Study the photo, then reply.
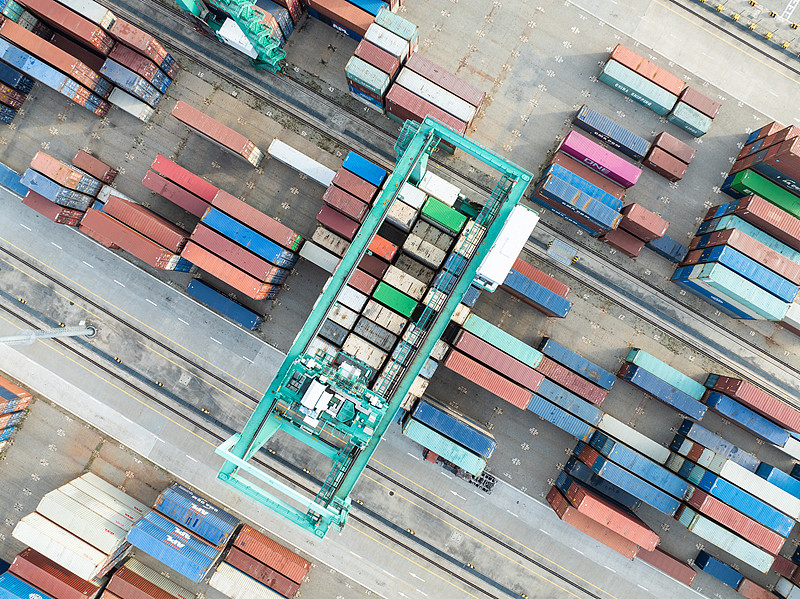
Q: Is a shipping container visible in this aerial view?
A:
Yes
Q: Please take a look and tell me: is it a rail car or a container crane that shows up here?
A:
container crane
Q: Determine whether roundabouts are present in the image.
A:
No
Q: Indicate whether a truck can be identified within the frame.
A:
Yes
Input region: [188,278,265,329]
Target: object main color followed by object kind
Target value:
blue shipping container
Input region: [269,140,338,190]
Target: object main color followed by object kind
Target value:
white shipping container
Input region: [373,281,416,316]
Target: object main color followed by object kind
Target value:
green shipping container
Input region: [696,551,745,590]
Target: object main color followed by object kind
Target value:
blue shipping container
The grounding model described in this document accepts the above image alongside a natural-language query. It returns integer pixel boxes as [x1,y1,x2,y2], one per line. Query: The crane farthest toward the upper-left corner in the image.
[173,0,291,78]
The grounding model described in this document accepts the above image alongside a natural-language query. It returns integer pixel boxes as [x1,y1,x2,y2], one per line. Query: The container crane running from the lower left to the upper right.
[211,111,550,546]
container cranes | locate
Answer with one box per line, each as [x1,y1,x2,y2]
[211,111,550,546]
[173,0,291,78]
